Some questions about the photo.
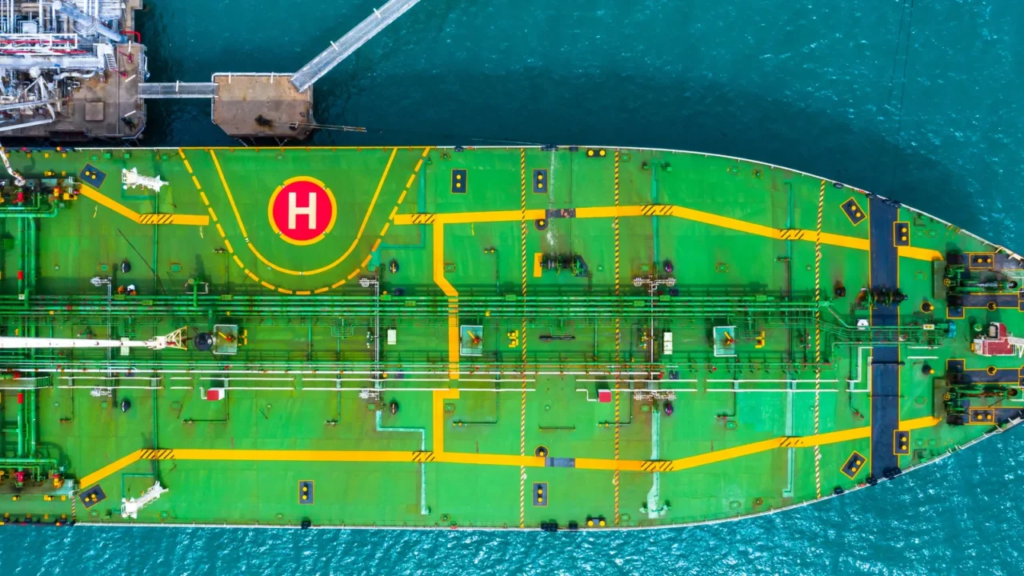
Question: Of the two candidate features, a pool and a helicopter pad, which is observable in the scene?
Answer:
helicopter pad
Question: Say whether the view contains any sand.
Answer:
No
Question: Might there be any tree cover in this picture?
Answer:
No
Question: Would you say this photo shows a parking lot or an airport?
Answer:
parking lot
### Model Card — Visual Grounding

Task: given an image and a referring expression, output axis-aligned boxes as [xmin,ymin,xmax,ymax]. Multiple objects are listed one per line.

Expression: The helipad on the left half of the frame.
[179,149,426,294]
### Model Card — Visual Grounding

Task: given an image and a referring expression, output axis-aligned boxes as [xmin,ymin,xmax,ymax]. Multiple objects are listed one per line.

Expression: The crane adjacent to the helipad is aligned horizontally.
[0,326,187,350]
